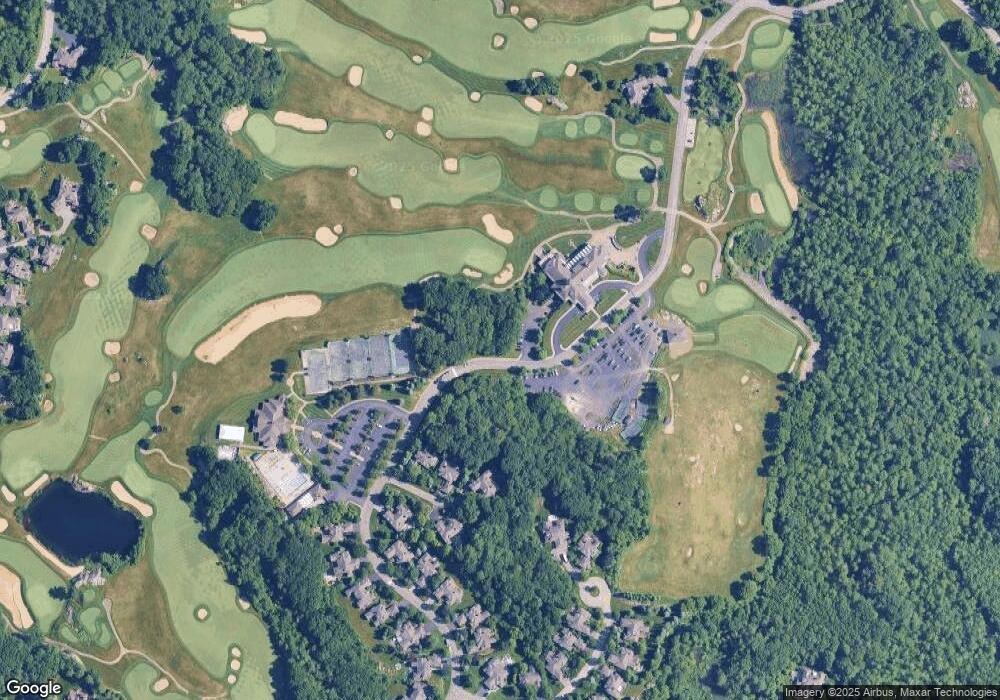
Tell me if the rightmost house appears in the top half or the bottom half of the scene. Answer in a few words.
bottom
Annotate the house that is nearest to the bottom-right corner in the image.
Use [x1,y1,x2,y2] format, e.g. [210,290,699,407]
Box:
[798,668,827,691]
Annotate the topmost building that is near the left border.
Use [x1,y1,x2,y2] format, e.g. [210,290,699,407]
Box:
[49,44,83,71]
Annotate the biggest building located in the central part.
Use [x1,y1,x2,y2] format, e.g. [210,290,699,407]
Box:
[532,244,606,316]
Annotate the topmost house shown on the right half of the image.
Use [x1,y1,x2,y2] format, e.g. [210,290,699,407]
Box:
[628,64,664,114]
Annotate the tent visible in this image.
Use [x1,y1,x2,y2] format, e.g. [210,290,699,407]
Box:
[218,425,244,441]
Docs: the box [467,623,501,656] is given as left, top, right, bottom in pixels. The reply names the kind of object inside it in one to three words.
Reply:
house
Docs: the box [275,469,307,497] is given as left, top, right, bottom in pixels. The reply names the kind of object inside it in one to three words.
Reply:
swimming pool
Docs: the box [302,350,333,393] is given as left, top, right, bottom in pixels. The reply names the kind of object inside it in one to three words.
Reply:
tennis court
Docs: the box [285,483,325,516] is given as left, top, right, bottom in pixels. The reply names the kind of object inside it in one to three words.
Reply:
building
